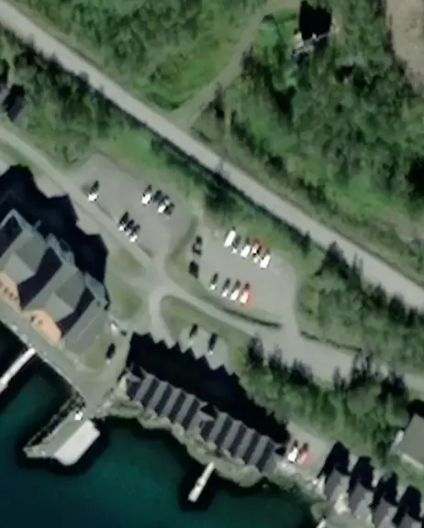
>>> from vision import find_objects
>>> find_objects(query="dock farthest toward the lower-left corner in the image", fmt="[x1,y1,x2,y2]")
[55,423,100,465]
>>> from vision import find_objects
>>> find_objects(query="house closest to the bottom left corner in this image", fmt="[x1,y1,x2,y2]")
[125,376,208,436]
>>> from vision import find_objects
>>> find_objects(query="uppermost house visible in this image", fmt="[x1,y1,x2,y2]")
[294,20,334,62]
